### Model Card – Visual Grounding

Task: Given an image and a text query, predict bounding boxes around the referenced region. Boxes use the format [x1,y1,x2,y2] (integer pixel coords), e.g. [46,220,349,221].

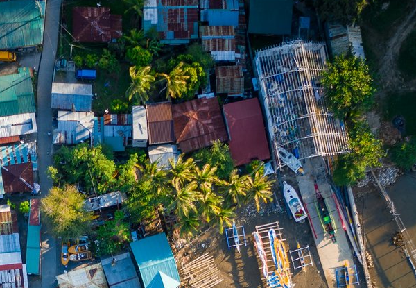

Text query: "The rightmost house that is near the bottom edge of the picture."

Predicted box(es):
[130,232,180,288]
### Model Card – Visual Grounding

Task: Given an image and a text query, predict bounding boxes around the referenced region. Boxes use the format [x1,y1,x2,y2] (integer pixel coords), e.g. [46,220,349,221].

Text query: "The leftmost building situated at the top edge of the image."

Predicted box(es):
[0,0,46,54]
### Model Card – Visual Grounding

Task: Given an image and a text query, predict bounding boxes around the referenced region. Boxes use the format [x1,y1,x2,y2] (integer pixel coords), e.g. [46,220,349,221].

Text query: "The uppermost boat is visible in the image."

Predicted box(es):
[277,147,306,177]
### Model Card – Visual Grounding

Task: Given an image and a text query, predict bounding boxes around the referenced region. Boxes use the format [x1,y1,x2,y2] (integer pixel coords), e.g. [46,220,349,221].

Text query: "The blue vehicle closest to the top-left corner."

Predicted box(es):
[76,70,97,83]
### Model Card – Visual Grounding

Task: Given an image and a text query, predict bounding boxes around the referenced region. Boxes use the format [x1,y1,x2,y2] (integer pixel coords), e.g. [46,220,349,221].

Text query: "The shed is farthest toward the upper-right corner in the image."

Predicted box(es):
[328,25,365,63]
